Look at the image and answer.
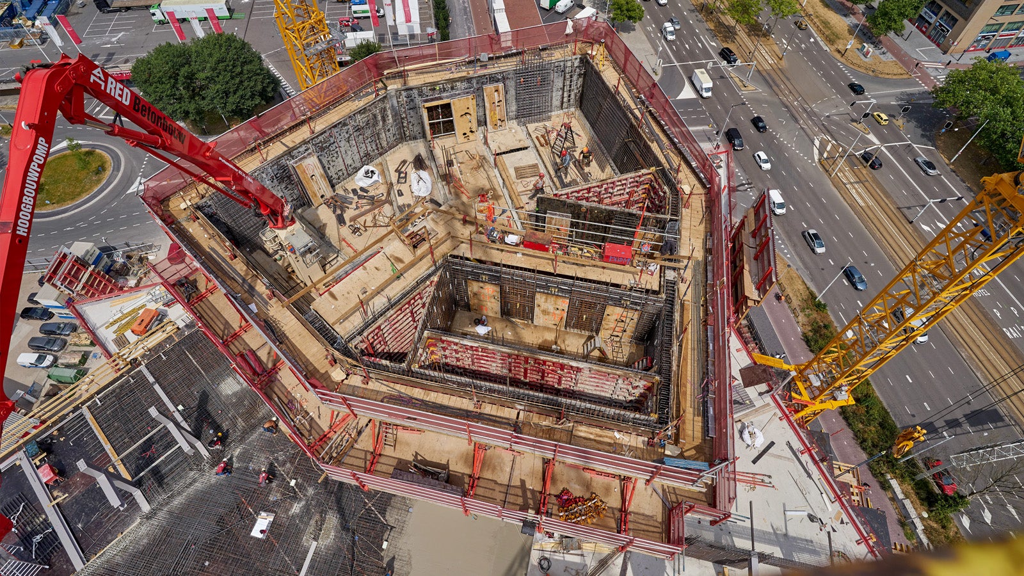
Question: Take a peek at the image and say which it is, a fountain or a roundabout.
roundabout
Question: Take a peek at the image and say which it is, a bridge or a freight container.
freight container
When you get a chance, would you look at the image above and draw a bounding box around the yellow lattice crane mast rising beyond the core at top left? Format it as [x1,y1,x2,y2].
[274,0,365,89]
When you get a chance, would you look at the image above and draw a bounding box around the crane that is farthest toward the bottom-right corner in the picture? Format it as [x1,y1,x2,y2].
[752,168,1024,429]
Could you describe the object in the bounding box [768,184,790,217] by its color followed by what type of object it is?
white vehicle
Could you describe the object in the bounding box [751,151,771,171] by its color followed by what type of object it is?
white car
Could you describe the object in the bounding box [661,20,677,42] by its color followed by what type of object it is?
white vehicle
